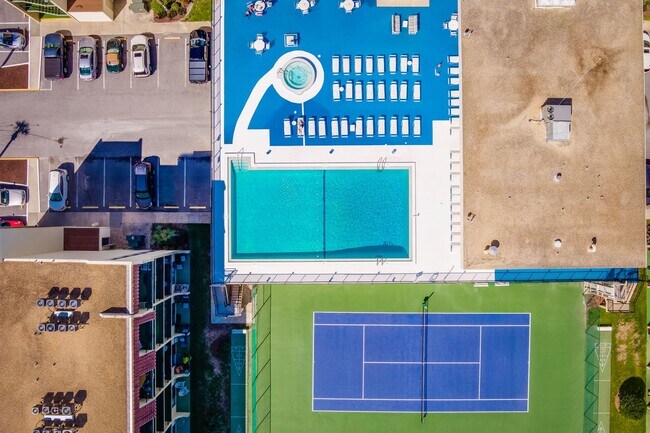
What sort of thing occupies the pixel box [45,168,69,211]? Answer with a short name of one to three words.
car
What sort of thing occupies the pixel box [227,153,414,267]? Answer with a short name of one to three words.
swimming pool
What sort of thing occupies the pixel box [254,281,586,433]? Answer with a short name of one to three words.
tennis court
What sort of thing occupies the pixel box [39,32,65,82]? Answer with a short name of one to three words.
truck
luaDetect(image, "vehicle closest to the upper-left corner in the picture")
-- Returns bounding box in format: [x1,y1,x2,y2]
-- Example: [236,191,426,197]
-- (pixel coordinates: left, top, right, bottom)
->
[0,27,22,49]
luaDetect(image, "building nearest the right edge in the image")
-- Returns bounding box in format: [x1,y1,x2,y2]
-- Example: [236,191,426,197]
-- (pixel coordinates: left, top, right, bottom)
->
[458,0,646,270]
